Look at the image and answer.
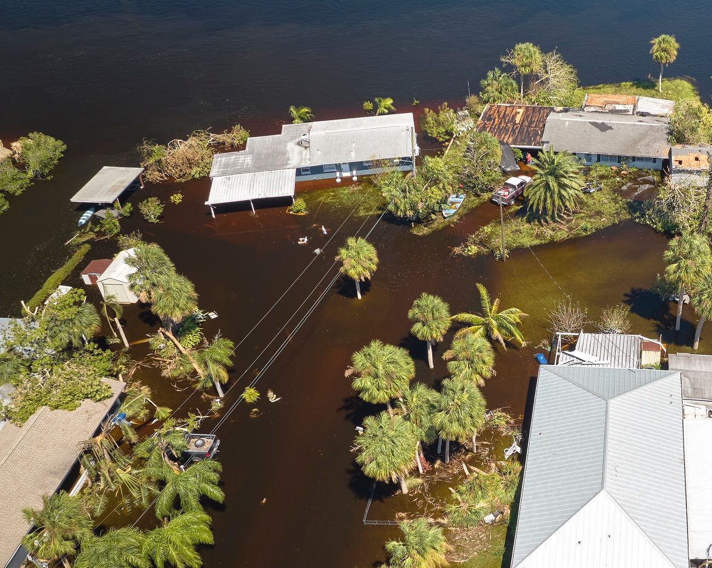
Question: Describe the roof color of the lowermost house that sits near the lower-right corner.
white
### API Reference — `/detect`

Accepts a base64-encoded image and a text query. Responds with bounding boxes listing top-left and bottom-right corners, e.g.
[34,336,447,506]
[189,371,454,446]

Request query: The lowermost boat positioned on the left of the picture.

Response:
[77,207,95,226]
